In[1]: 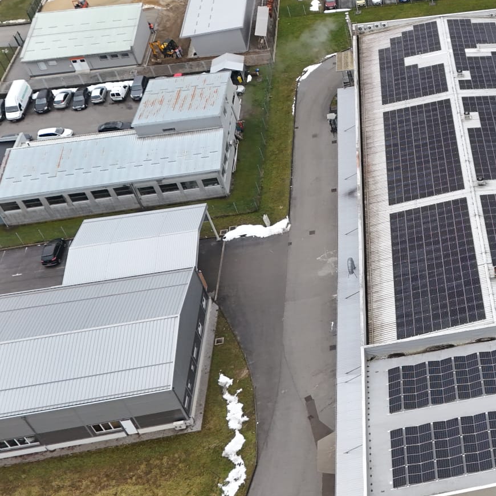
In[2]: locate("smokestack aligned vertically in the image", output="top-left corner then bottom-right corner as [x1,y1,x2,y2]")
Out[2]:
[341,7,353,53]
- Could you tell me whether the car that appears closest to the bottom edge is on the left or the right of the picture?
left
